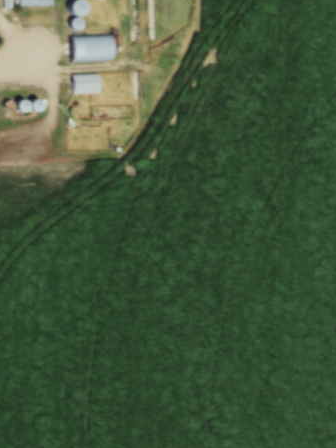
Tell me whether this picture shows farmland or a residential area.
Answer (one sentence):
The area seen from above is farmland.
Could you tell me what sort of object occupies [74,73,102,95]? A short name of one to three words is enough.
barn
